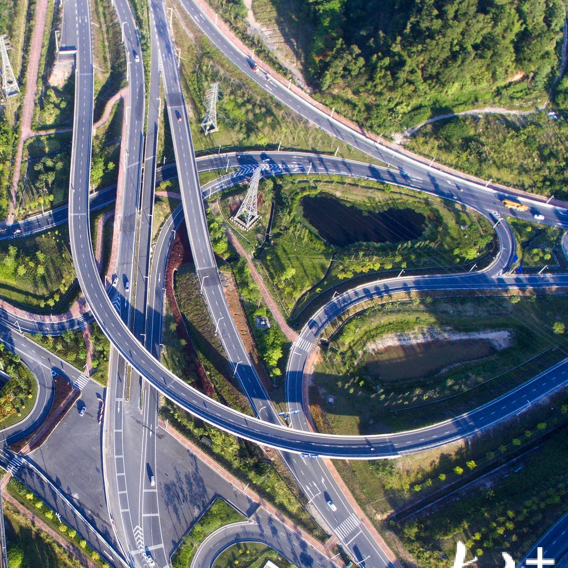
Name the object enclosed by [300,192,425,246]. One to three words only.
pond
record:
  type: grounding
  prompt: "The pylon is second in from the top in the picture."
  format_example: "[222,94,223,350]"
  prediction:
[200,79,222,134]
